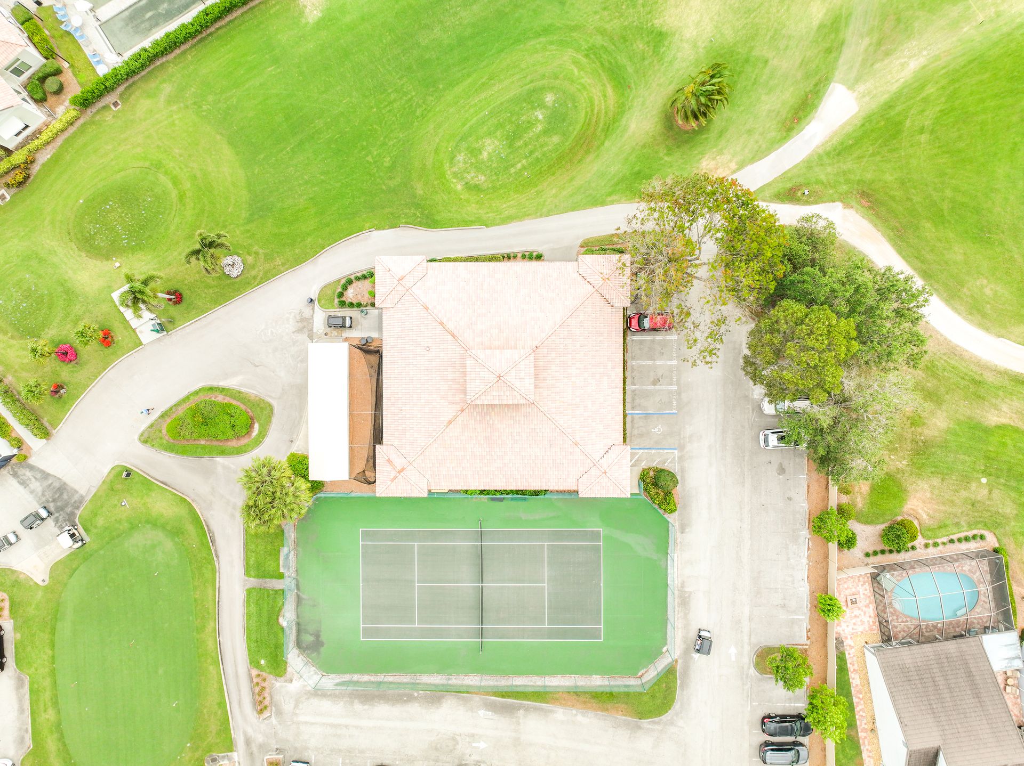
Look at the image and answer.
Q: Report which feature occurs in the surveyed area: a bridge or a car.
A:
car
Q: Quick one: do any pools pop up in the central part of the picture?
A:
No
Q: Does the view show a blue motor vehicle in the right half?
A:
No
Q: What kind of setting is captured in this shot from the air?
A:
golf course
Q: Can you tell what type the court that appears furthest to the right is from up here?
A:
tennis court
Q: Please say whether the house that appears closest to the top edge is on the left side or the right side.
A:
left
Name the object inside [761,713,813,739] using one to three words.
car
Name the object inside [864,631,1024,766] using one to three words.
building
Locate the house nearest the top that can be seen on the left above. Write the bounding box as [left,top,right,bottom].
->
[0,12,46,88]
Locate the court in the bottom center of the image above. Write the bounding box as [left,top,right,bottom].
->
[295,489,667,677]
